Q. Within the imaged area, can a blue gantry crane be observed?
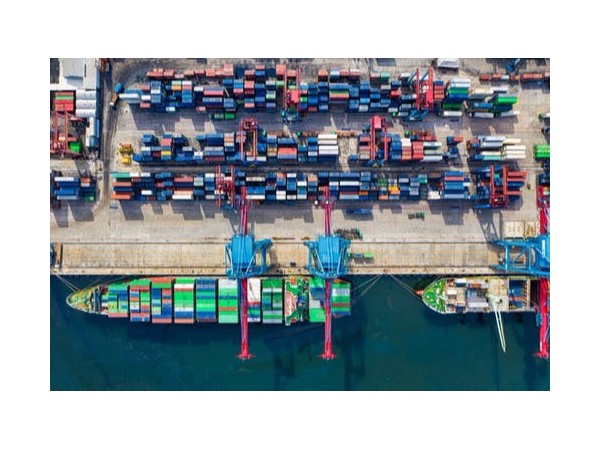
Yes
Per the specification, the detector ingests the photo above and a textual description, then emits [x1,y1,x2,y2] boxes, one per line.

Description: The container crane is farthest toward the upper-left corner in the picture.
[53,111,90,161]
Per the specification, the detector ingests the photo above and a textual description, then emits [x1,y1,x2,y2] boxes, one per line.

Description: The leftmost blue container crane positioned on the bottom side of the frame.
[228,186,276,362]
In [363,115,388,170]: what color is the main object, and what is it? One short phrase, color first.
red container crane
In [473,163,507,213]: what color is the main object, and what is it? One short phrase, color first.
red container crane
